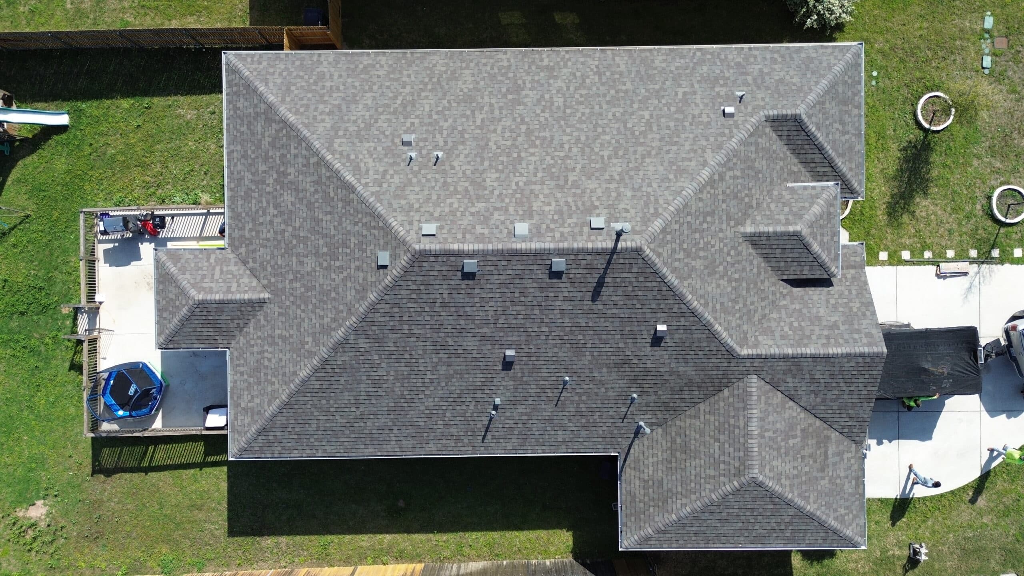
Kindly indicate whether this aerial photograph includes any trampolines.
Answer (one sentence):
Yes, looking at the shot, I can spot a trampoline.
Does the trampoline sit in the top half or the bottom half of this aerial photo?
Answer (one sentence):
The trampoline sits in the bottom half of the picture.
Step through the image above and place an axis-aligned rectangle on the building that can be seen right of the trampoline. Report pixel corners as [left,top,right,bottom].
[155,42,887,550]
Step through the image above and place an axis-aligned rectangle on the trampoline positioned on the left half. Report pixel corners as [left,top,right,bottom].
[87,362,167,422]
